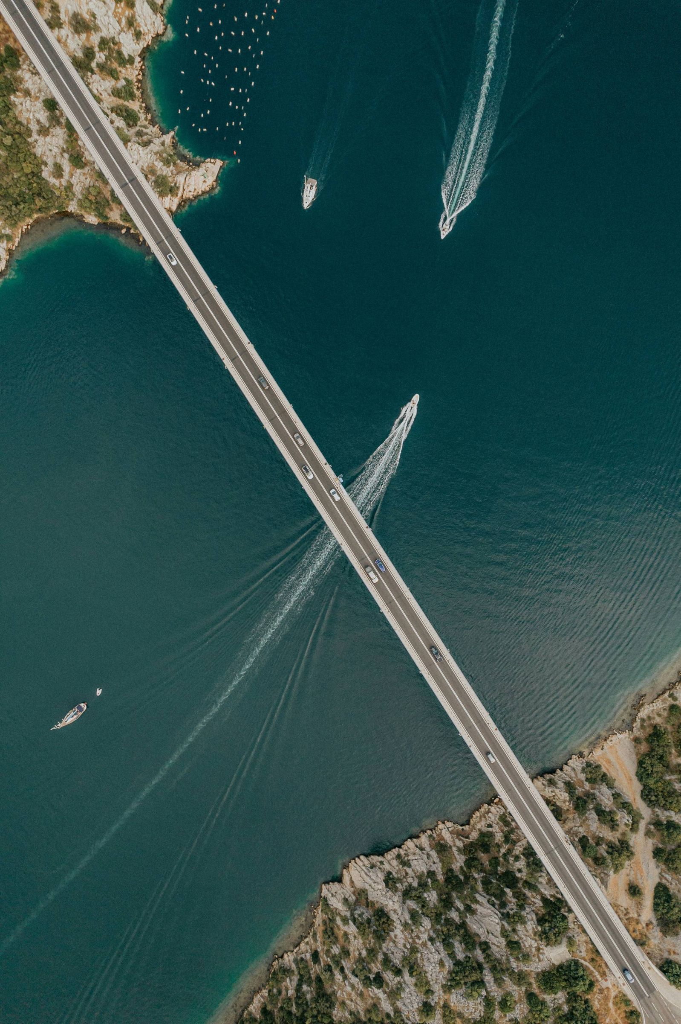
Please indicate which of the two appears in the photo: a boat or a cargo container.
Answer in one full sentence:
I can see a boat in this picture.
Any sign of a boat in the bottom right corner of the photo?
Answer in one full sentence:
No, the scene shows no boat in the bottom right corner of the photo.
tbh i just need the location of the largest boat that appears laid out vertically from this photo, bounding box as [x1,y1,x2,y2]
[303,172,316,208]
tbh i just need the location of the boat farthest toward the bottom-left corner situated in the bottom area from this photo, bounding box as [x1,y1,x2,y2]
[50,703,88,735]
